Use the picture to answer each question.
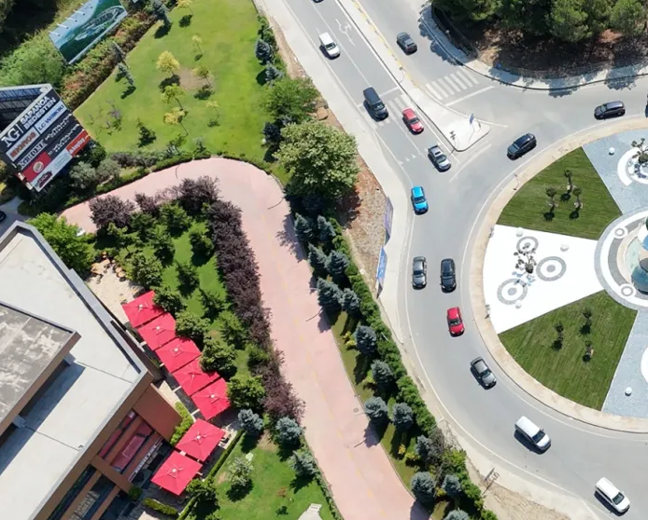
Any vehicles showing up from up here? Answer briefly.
Yes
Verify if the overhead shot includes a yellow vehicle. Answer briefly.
No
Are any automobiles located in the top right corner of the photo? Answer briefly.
Yes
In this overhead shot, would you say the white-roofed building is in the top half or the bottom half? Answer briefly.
bottom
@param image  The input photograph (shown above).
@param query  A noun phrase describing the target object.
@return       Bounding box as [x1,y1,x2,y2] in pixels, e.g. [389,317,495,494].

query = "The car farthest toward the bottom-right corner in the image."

[595,476,632,517]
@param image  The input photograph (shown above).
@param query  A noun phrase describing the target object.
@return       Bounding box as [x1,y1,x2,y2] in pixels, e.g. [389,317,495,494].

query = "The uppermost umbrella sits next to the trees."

[123,291,160,328]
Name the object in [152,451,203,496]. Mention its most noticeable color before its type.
red umbrella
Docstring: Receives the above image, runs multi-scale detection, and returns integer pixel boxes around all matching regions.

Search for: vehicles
[404,107,423,133]
[595,476,632,517]
[0,203,12,218]
[469,354,497,391]
[397,31,417,54]
[318,29,340,56]
[362,83,386,118]
[445,304,465,337]
[411,257,427,289]
[439,258,458,290]
[515,414,551,454]
[593,101,626,120]
[506,131,537,157]
[426,141,451,173]
[410,184,428,215]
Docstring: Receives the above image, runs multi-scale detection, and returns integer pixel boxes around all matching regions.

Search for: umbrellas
[138,315,177,351]
[191,379,231,421]
[155,338,197,373]
[175,419,225,461]
[173,358,221,396]
[123,291,160,328]
[152,451,203,496]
